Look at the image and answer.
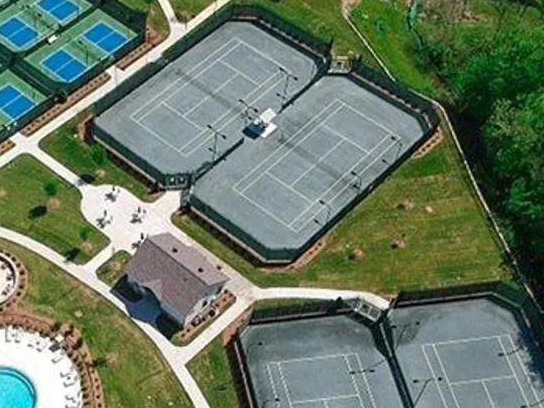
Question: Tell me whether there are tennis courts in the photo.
Yes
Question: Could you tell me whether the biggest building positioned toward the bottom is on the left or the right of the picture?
left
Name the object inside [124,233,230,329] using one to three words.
building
